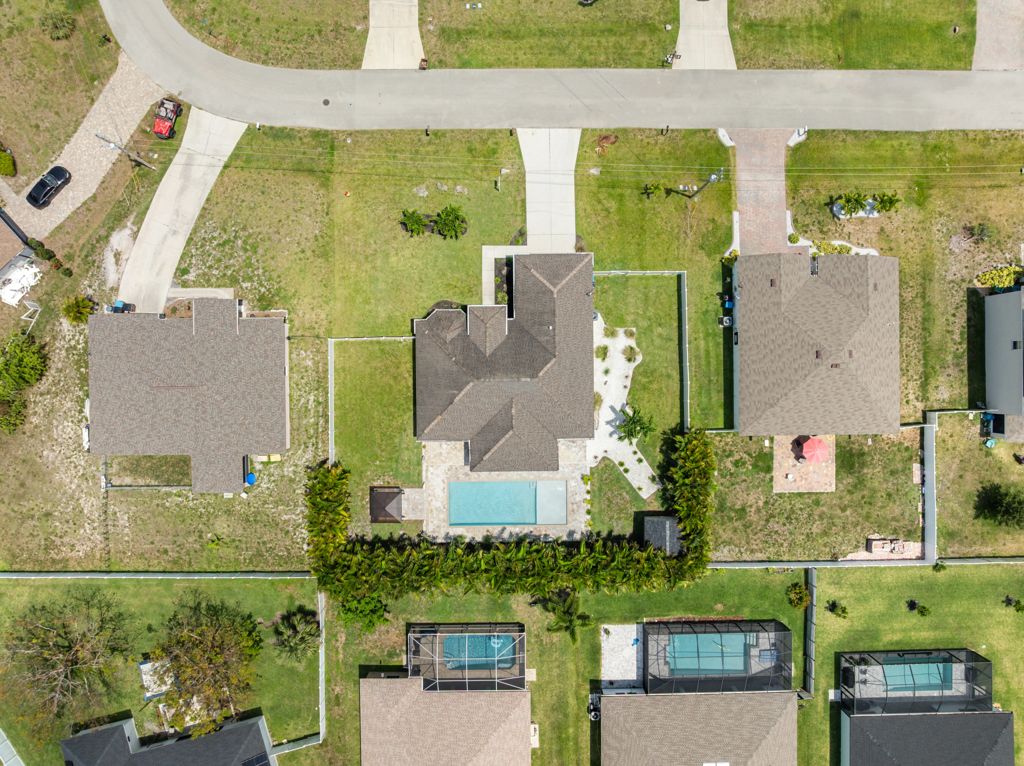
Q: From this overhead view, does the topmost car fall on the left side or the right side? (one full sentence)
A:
The topmost car appears in the left half of the scene.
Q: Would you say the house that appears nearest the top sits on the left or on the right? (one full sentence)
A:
You can find the house that appears nearest the top on the left side of the picture.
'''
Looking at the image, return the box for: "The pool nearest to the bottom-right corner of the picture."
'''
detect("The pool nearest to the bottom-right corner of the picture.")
[881,664,954,693]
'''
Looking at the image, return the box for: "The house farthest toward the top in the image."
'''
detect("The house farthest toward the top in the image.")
[0,210,36,284]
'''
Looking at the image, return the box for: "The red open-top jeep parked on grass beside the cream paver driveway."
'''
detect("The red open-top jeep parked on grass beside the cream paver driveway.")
[153,95,185,141]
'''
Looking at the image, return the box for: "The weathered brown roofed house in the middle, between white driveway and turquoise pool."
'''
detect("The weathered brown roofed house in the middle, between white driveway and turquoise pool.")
[416,253,594,472]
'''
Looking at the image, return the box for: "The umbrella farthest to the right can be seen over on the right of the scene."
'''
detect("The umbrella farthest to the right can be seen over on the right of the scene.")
[802,437,829,463]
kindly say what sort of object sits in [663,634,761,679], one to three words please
swimming pool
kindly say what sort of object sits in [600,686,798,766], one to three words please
house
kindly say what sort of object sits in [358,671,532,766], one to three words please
house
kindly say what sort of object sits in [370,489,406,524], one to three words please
gazebo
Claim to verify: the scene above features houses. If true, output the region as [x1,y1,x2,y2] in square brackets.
[416,253,594,472]
[986,284,1024,445]
[734,254,900,436]
[85,296,291,494]
[59,714,278,766]
[841,707,1014,766]
[358,671,532,766]
[600,686,798,766]
[0,210,36,284]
